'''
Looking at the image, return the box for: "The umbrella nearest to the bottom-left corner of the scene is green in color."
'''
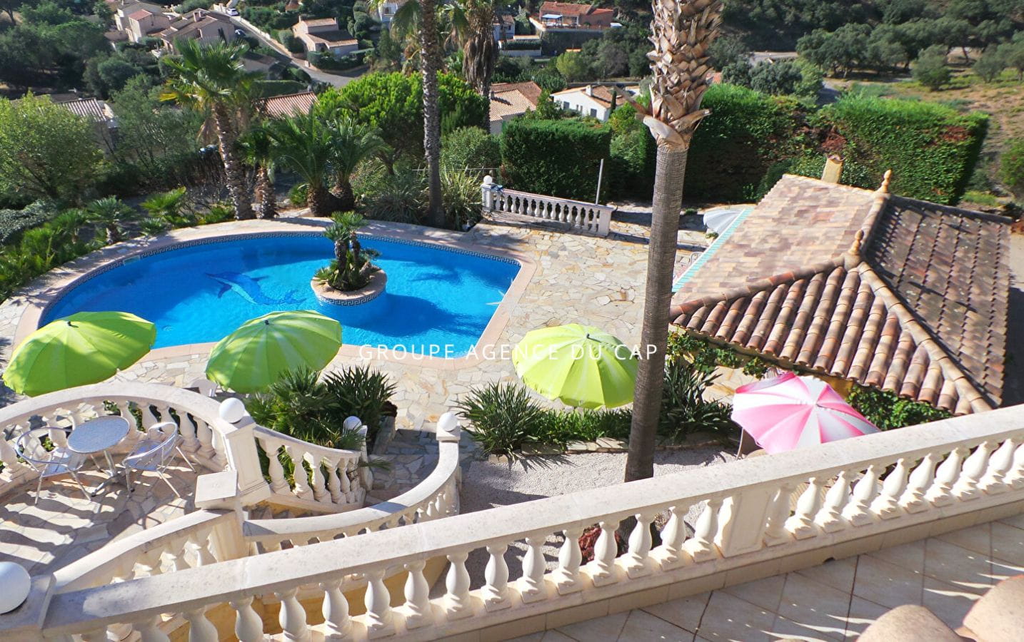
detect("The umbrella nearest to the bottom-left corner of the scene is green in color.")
[2,305,161,415]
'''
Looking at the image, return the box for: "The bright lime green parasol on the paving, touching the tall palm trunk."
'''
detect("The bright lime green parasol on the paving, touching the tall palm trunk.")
[521,313,641,439]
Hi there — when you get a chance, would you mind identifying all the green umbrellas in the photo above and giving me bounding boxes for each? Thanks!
[199,308,345,400]
[2,305,161,415]
[521,313,641,439]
